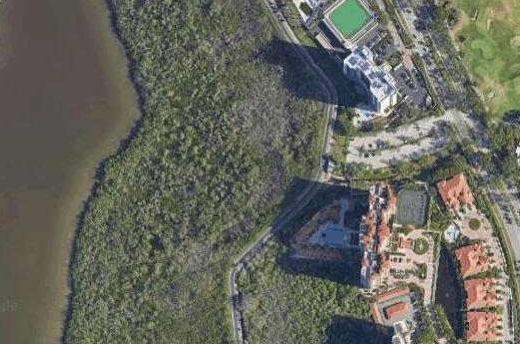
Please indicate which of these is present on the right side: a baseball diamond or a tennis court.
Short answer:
tennis court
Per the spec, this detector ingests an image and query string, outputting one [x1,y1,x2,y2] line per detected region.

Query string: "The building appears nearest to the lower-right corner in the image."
[466,311,501,341]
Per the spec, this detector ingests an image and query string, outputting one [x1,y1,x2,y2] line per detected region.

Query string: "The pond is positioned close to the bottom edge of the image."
[435,245,466,339]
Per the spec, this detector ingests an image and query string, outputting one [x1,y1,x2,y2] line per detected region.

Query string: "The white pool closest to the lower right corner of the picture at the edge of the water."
[444,223,459,242]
